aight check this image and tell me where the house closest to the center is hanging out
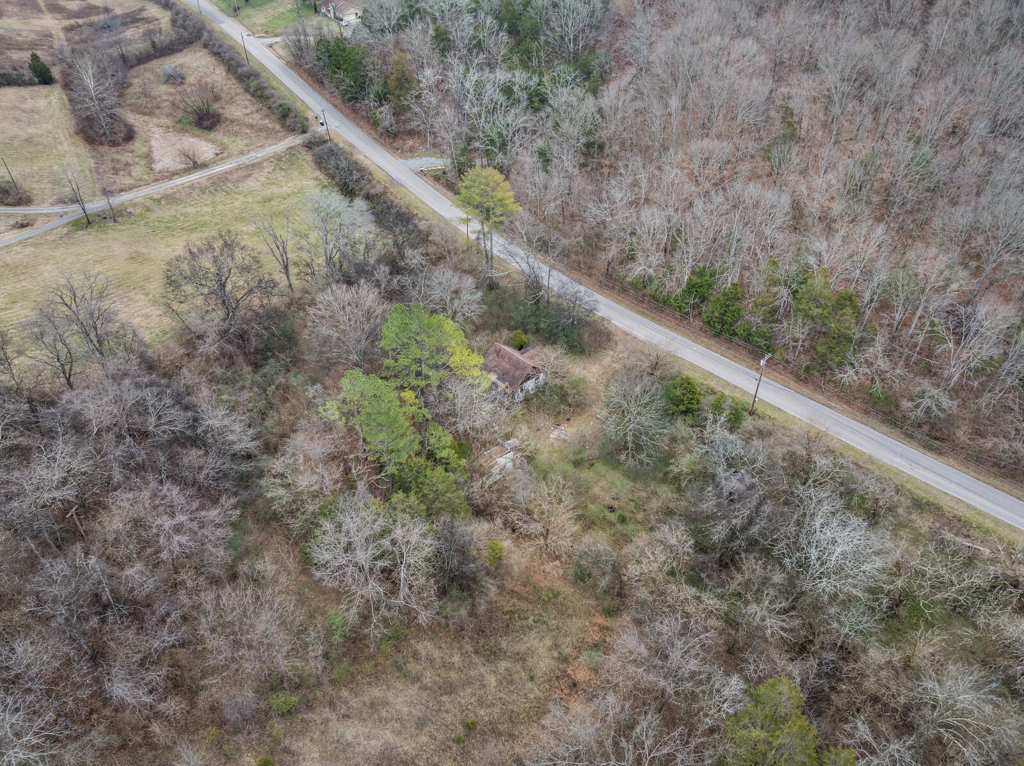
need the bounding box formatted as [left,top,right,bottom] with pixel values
[478,346,545,406]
